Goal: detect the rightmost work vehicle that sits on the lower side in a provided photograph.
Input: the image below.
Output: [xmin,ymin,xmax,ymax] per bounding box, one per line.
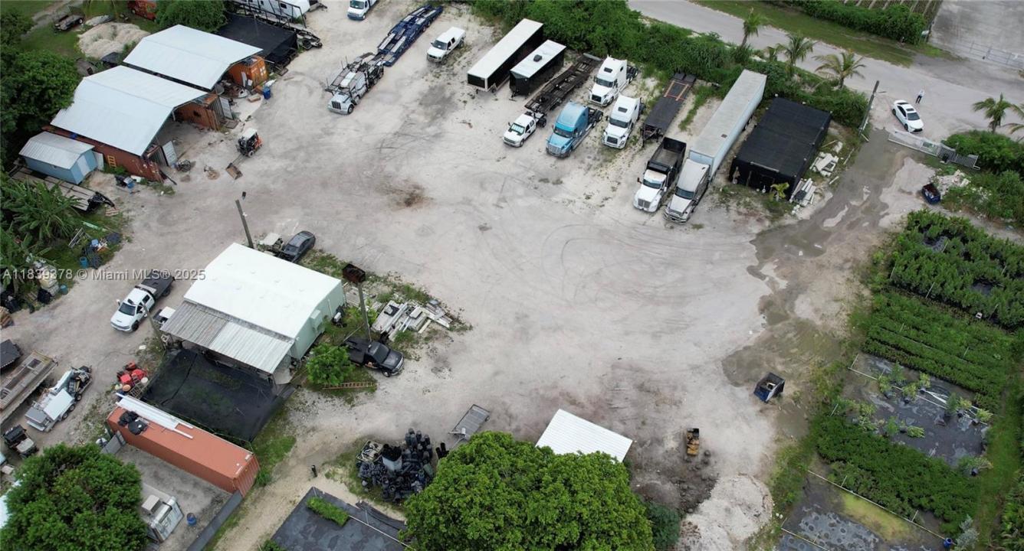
[685,427,701,454]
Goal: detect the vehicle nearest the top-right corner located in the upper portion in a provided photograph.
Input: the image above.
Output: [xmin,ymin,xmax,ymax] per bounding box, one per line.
[891,99,924,130]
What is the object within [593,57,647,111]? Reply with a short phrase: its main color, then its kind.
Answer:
white truck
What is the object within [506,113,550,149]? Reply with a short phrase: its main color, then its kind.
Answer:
white truck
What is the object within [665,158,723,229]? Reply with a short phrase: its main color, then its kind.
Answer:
gray truck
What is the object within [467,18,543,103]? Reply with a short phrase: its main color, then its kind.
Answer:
white trailer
